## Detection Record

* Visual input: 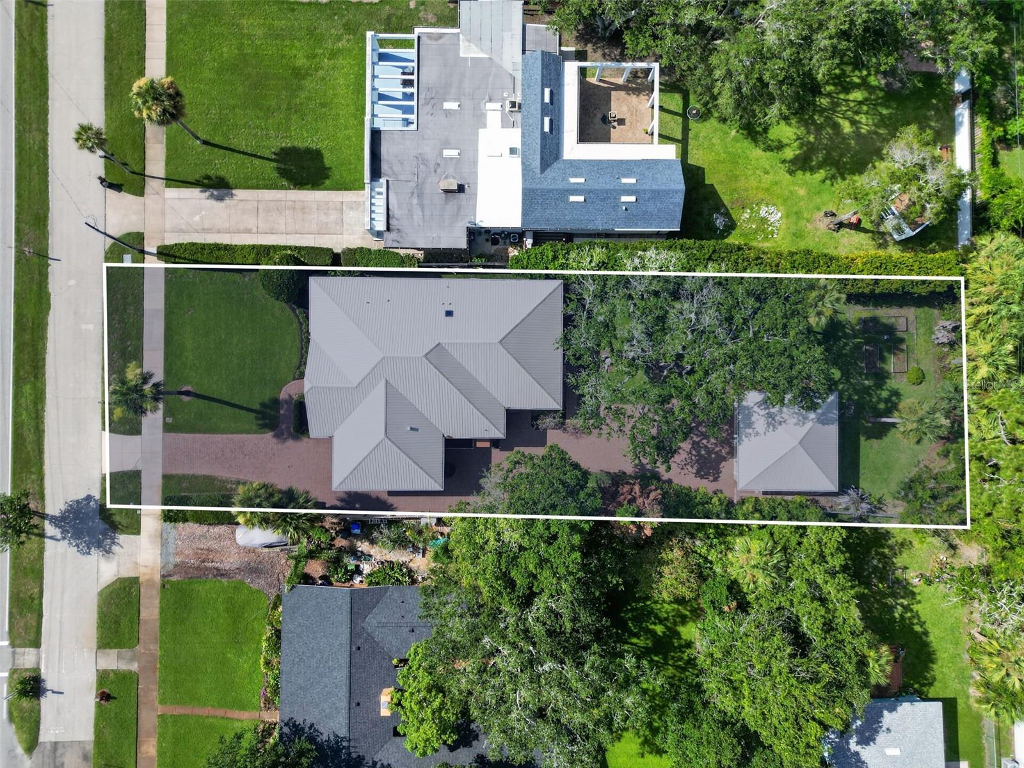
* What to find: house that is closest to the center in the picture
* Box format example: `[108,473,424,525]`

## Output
[305,275,564,492]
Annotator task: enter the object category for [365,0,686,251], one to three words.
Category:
house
